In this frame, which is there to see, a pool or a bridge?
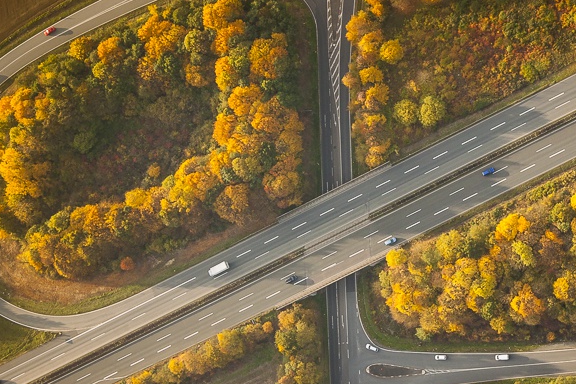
bridge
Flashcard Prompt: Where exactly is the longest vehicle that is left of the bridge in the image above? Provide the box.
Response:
[210,262,228,275]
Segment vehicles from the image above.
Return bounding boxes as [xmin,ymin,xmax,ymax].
[286,275,298,284]
[434,355,447,360]
[496,354,509,360]
[210,262,228,275]
[366,344,378,352]
[385,237,396,245]
[483,168,494,176]
[45,27,55,35]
